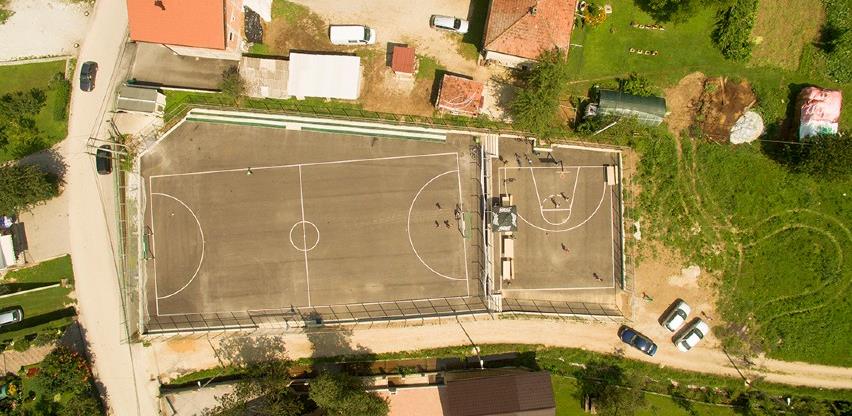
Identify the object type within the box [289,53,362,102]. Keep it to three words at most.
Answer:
shed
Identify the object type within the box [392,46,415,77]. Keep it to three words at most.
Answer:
shed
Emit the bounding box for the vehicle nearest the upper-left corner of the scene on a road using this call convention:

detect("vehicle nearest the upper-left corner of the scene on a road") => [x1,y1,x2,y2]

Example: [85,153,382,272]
[79,62,98,92]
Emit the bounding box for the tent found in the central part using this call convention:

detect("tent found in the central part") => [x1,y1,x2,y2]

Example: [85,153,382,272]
[490,206,516,231]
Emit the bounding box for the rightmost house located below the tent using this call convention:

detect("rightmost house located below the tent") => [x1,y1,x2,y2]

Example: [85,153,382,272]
[444,366,555,416]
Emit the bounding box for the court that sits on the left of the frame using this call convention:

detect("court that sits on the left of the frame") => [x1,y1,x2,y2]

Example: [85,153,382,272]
[140,117,488,332]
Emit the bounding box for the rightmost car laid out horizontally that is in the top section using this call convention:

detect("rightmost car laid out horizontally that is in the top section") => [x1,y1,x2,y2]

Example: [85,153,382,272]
[430,15,468,34]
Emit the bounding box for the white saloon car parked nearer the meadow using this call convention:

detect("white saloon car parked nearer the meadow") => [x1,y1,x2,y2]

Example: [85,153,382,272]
[675,319,708,354]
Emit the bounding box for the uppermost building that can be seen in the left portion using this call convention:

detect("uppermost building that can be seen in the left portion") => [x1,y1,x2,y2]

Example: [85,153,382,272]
[127,0,246,60]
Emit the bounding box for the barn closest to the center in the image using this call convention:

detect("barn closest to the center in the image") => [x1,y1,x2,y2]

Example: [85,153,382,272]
[438,74,483,116]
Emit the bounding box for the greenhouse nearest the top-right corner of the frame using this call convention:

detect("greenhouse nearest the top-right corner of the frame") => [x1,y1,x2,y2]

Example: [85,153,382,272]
[599,87,670,126]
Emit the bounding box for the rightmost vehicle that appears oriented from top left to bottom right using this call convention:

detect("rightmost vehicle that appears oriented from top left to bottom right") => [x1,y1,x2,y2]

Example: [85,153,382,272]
[619,326,656,355]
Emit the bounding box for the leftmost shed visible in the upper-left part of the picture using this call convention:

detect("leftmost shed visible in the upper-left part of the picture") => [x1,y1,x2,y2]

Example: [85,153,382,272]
[116,87,166,111]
